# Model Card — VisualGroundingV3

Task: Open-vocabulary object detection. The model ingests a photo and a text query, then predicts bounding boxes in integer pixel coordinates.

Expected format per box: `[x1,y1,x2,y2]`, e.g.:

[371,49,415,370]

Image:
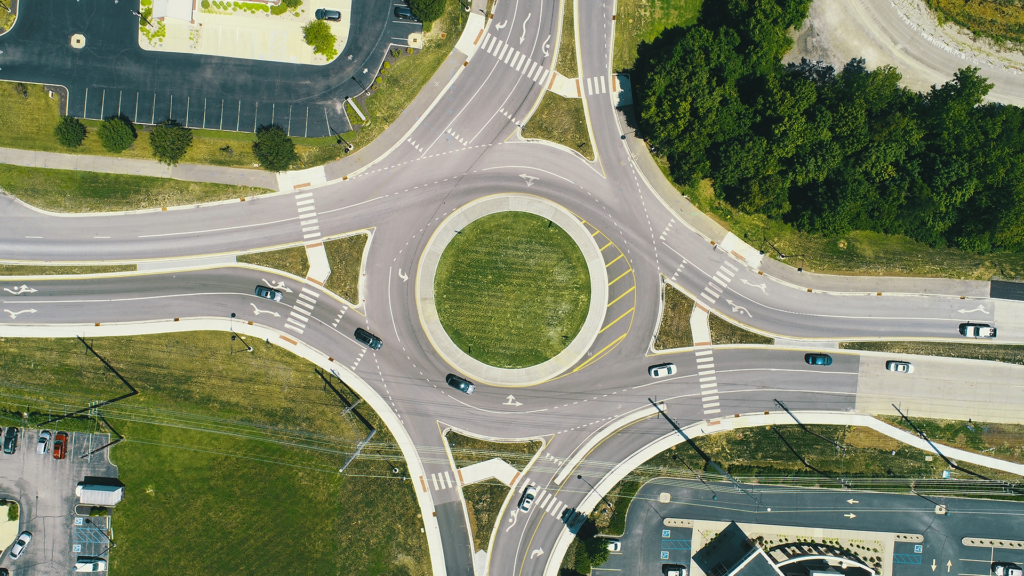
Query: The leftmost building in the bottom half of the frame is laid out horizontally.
[702,536,784,576]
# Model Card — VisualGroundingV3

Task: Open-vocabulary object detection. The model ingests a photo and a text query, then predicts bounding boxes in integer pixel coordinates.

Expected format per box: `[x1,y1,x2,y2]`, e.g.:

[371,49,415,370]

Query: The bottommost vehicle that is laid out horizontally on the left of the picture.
[68,555,113,575]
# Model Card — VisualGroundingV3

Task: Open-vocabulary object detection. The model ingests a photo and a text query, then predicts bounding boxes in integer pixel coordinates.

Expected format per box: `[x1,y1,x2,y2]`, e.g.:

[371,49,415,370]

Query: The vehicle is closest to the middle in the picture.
[444,373,476,395]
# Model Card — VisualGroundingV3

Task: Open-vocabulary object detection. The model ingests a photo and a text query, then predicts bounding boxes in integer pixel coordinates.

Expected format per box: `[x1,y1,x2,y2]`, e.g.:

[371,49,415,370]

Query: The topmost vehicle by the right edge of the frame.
[961,323,1000,338]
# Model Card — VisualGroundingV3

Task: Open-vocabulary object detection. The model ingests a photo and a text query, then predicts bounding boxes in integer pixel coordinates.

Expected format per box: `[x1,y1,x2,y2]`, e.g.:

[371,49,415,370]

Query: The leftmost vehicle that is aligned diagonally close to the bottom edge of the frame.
[8,529,35,561]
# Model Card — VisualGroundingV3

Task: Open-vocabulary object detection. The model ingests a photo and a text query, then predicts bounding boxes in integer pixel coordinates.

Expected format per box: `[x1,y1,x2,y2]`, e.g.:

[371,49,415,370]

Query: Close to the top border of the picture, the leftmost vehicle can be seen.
[314,6,343,23]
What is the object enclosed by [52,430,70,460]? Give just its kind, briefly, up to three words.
car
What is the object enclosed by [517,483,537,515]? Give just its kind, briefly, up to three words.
car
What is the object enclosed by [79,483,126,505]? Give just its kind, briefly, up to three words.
truck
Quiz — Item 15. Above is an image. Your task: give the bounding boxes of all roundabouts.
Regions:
[362,140,663,439]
